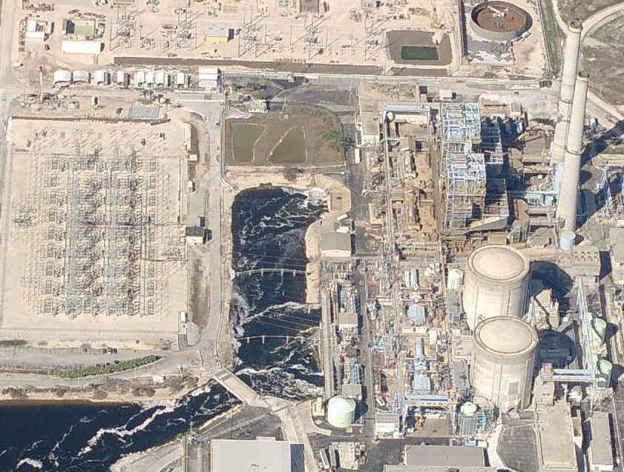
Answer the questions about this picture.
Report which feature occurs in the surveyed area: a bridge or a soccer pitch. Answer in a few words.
bridge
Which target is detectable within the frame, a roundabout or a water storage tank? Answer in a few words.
water storage tank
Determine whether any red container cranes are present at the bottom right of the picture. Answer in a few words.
No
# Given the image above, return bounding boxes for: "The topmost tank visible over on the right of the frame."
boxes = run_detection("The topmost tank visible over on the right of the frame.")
[469,2,532,47]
